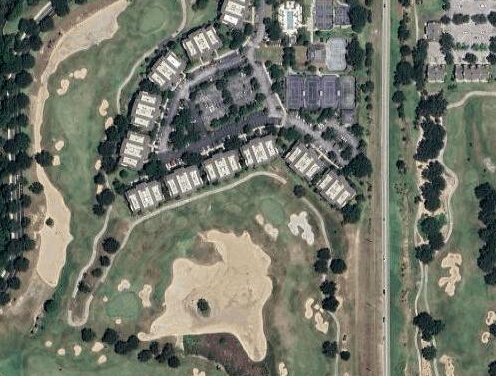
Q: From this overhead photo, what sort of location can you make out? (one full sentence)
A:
The area seen from above is a golf course.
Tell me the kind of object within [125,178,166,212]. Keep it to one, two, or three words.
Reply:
building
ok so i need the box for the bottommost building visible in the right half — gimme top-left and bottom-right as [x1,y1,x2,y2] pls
[316,169,355,208]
